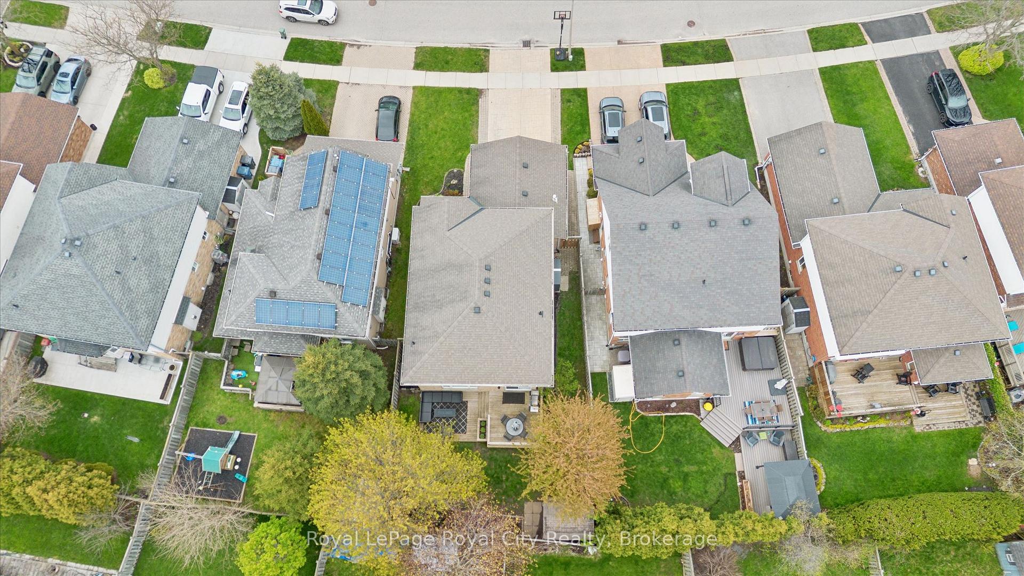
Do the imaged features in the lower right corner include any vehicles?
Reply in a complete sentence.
No, I see no vehicle in the lower right corner.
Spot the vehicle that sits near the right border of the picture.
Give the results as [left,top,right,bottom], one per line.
[928,66,975,128]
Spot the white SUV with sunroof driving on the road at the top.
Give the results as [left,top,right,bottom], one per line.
[277,0,340,26]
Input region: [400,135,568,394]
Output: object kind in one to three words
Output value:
house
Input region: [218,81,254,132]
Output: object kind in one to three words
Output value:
car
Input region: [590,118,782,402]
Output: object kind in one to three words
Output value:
house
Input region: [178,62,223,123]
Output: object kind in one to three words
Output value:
truck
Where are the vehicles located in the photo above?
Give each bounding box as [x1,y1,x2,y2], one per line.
[599,98,628,145]
[928,66,975,128]
[277,0,340,26]
[638,91,674,140]
[218,81,254,132]
[178,62,223,123]
[374,96,402,142]
[14,45,62,97]
[50,54,93,106]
